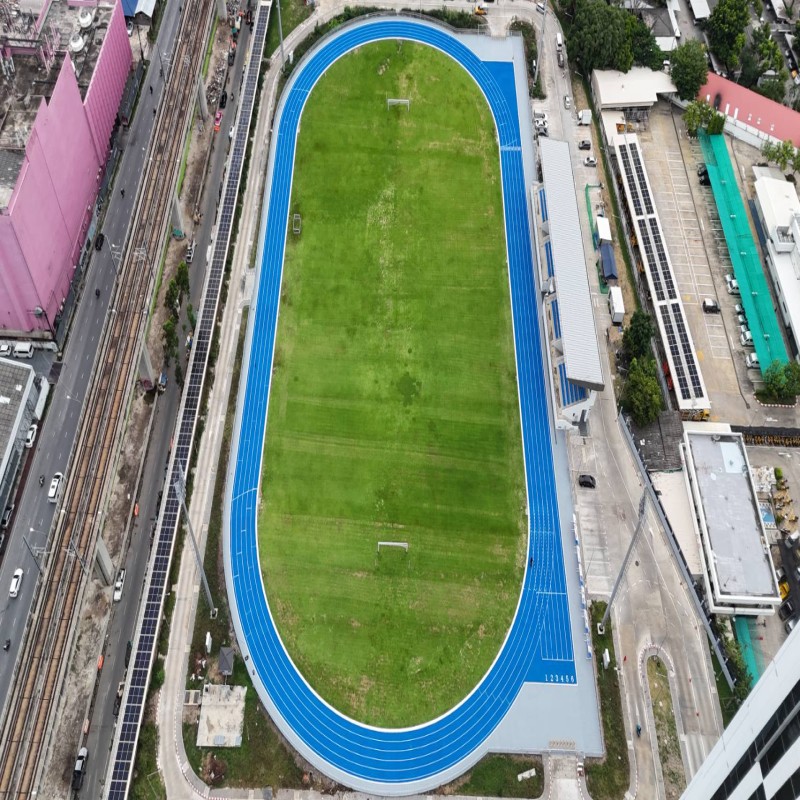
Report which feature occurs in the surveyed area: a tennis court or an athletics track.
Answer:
athletics track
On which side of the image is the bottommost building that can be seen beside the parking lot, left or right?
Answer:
right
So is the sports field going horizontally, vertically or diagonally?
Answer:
vertically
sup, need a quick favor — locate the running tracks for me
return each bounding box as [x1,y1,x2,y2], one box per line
[223,16,604,797]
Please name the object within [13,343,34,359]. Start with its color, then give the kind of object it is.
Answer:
white vehicle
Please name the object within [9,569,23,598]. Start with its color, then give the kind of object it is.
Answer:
white car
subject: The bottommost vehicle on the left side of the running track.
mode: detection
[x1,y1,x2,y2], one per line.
[70,747,89,790]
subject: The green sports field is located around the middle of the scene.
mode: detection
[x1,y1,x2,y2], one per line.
[257,38,528,727]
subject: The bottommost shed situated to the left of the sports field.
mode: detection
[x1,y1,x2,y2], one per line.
[219,648,234,684]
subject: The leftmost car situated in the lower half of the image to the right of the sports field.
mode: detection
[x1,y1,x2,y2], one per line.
[578,473,596,488]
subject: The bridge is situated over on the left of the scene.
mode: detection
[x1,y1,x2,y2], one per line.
[0,0,229,800]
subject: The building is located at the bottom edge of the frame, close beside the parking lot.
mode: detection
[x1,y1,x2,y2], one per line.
[683,629,800,800]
